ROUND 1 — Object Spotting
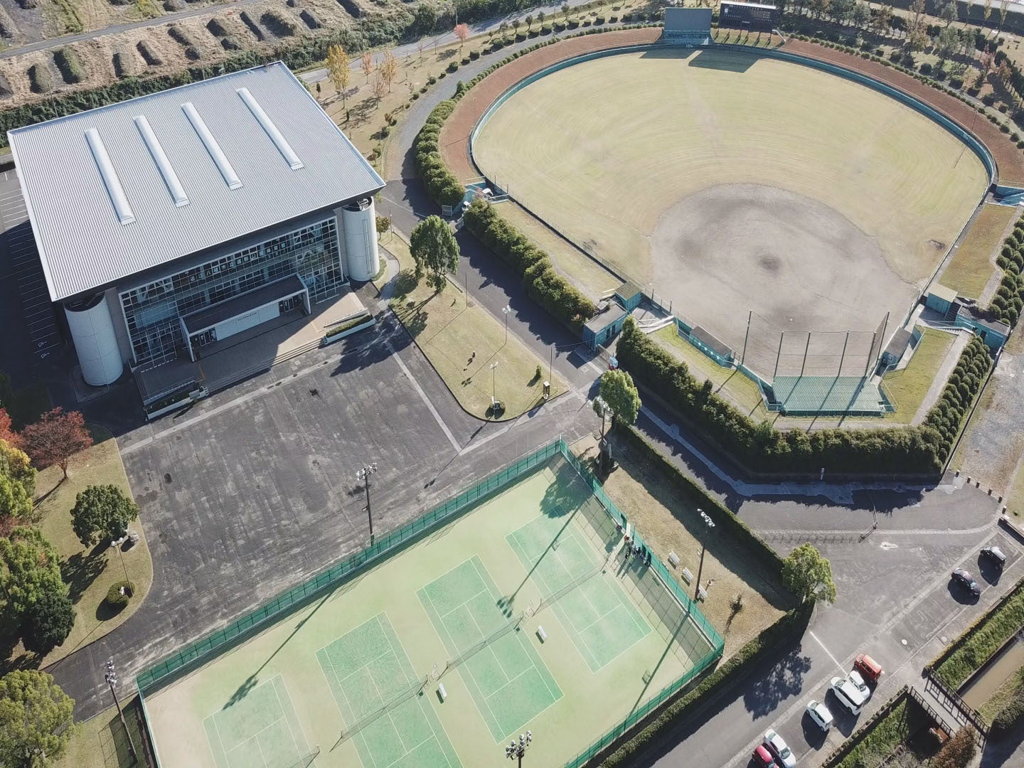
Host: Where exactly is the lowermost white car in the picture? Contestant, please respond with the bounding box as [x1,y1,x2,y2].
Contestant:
[766,726,799,768]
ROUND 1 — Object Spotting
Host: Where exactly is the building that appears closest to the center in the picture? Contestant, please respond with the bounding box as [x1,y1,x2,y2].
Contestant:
[584,291,633,349]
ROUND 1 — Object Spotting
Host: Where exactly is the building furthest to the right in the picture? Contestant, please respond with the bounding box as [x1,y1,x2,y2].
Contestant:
[959,302,1017,351]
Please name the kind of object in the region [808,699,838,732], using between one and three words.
car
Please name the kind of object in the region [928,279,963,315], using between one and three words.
shed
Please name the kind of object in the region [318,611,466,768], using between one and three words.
tennis court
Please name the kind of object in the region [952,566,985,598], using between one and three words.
car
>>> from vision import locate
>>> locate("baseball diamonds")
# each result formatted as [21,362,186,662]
[473,47,988,382]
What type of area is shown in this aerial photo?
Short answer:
sports ground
